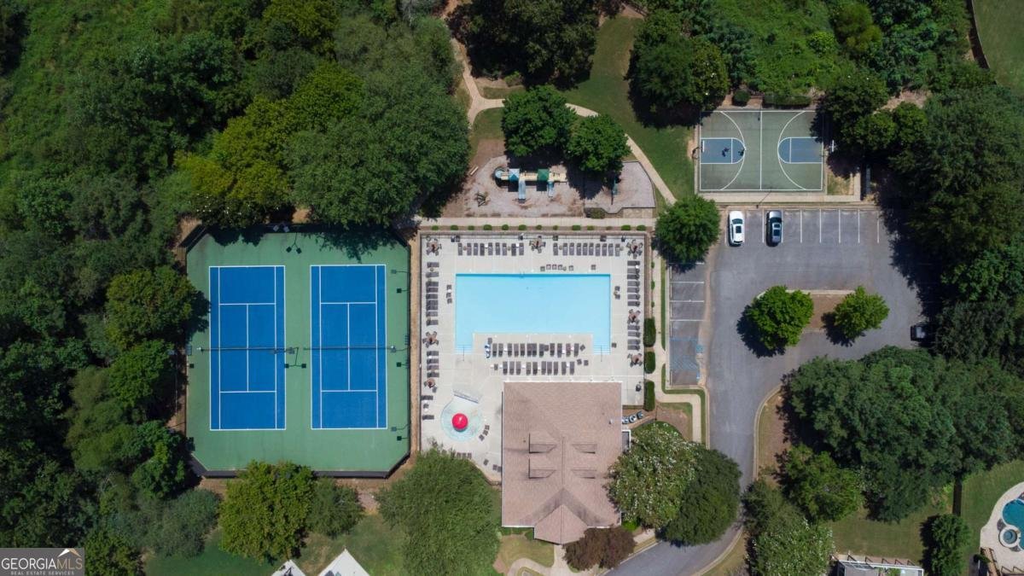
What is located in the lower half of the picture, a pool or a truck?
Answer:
pool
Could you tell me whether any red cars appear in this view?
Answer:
No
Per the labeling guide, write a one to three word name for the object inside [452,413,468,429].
fountain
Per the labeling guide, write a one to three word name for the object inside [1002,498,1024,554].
swimming pool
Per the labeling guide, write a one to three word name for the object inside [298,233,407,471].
tennis court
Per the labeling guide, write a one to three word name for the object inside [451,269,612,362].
swimming pool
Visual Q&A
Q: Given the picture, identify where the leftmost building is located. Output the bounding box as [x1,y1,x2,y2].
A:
[502,376,632,545]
